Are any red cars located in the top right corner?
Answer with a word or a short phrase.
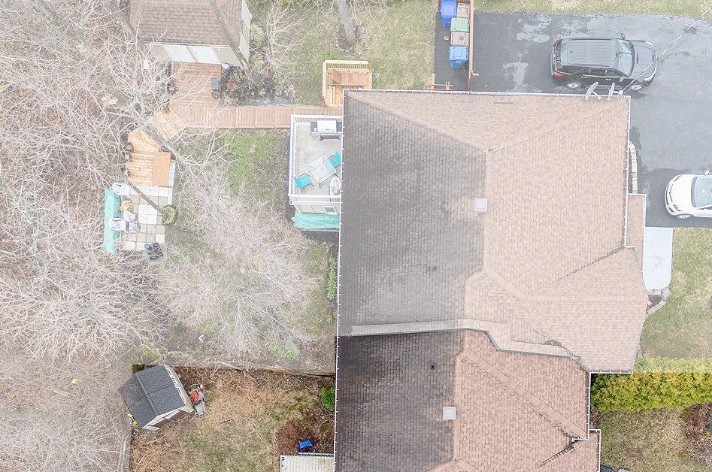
No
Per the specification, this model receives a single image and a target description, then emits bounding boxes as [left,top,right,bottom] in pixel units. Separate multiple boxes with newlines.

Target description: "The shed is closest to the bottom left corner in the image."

[119,366,195,427]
